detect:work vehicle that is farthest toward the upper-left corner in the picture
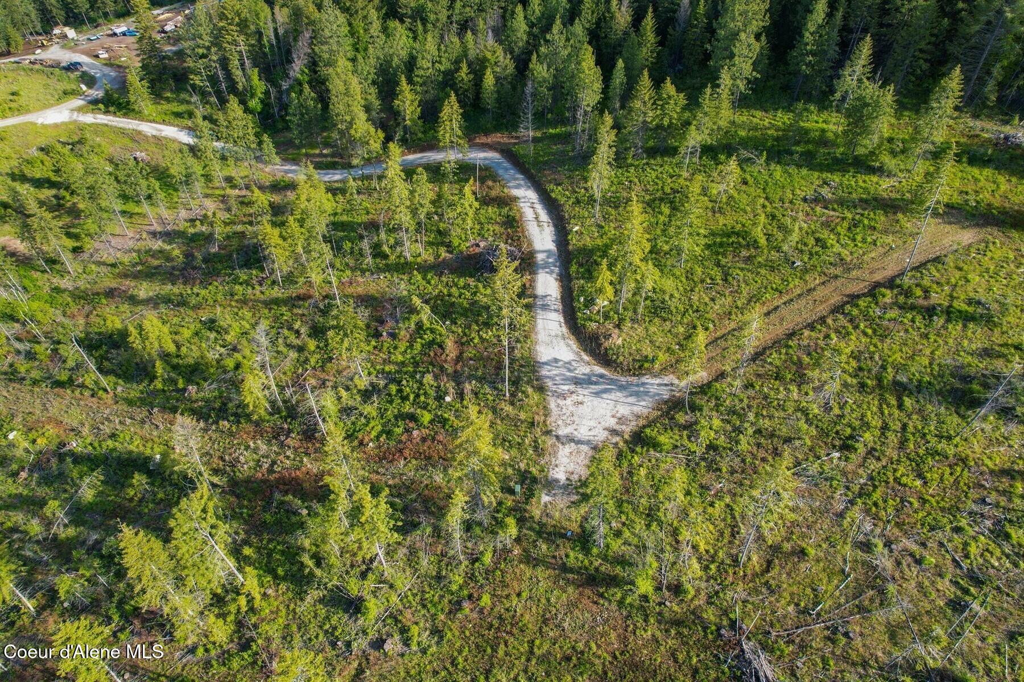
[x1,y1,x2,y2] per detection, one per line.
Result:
[32,34,50,47]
